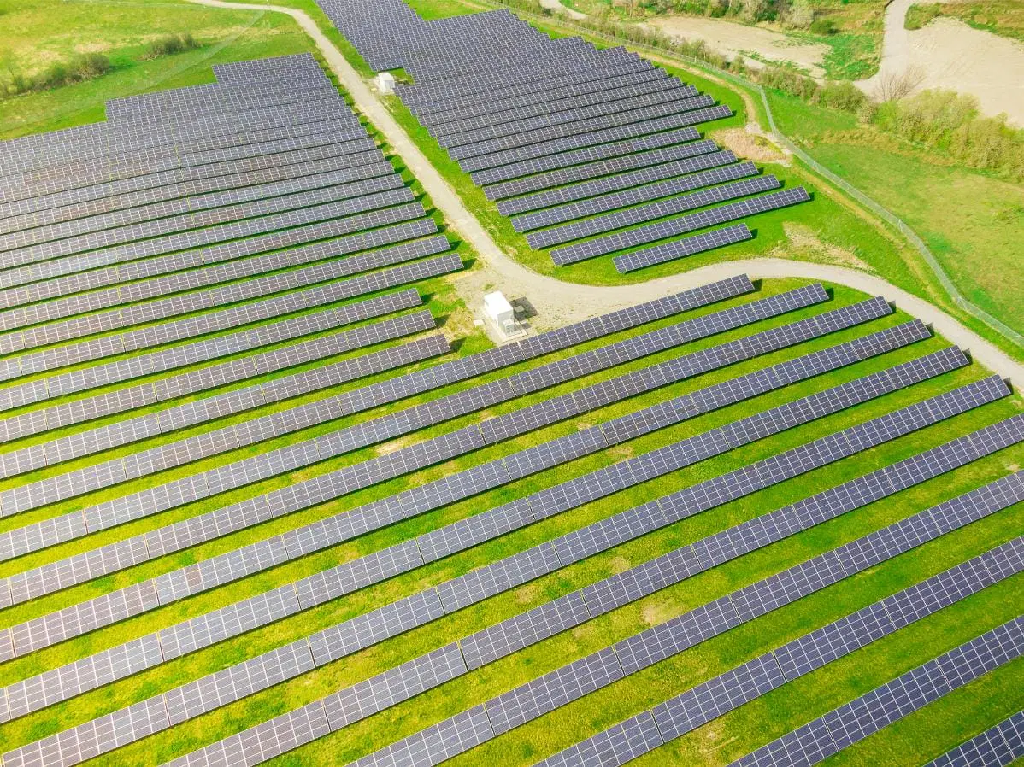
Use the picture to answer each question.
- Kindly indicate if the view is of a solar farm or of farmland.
solar farm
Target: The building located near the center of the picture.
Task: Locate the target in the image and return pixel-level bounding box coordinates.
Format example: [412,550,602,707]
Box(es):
[482,291,520,333]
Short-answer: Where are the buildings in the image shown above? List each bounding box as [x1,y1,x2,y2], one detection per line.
[482,291,520,333]
[378,72,396,92]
